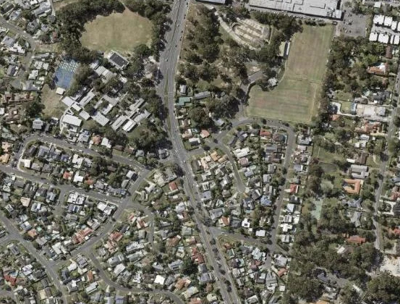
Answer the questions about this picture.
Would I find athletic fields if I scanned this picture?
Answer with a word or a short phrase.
Yes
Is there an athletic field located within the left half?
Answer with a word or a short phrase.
No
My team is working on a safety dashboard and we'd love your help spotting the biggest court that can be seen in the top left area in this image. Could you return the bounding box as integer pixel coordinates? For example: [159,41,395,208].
[54,60,78,89]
